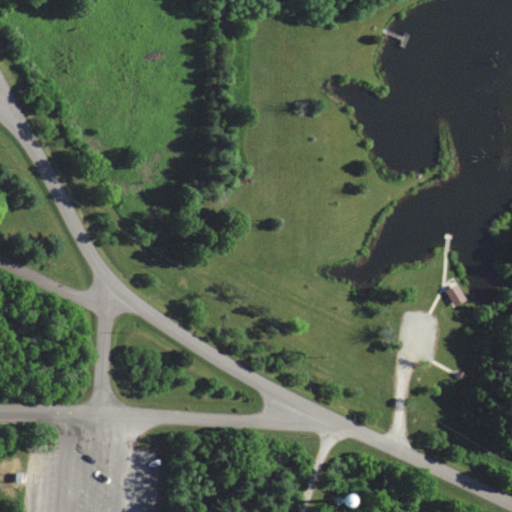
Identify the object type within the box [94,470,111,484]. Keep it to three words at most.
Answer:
vehicle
